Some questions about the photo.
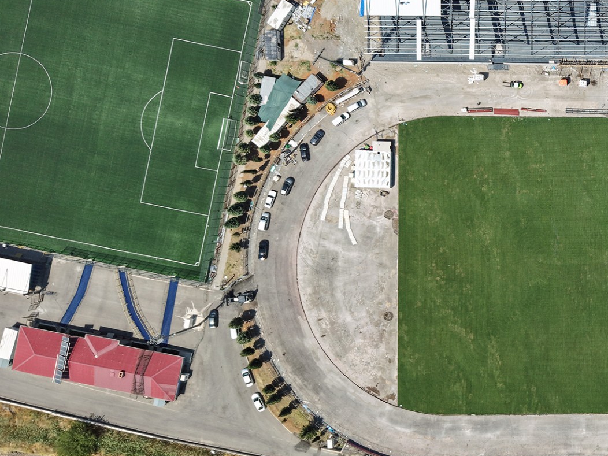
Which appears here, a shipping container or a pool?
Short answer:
shipping container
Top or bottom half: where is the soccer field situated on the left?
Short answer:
top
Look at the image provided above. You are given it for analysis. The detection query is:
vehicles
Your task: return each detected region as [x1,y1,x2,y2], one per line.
[209,309,220,328]
[259,211,271,231]
[335,83,365,105]
[231,328,238,339]
[243,367,255,386]
[281,177,295,196]
[347,99,366,113]
[332,113,351,127]
[225,292,256,304]
[310,129,325,147]
[264,190,279,209]
[260,240,270,260]
[300,143,311,162]
[253,392,267,412]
